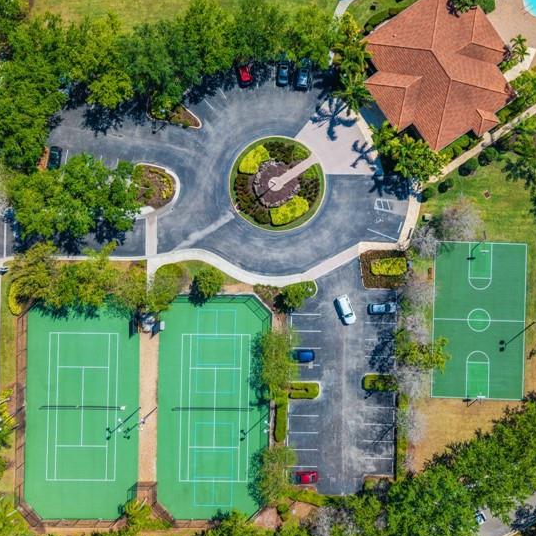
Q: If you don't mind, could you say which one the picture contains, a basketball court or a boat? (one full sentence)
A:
This aerial view contains a basketball court.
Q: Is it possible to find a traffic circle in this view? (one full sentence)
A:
Yes, there's a traffic circle down there.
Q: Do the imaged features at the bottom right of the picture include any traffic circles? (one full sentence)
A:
No, there is no traffic circle at the bottom right of the picture.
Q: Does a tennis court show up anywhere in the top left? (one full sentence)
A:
No, no tennis court is visible in the top left.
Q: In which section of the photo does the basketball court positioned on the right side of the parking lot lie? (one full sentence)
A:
The basketball court positioned on the right side of the parking lot sits in the right section of the image.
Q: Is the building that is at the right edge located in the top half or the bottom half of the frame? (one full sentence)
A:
Seen from above, the building that is at the right edge lies in the top half of the view.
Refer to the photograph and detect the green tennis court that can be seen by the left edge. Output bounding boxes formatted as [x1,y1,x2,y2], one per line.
[24,296,140,520]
